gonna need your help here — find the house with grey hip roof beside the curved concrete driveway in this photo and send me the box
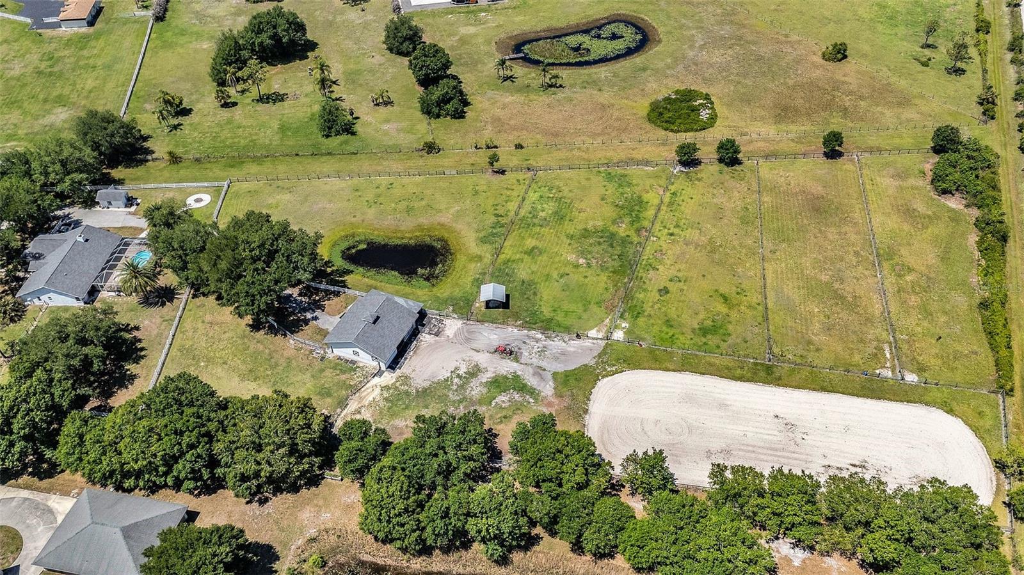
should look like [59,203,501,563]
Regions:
[33,488,188,575]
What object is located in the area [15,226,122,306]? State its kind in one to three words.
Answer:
house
